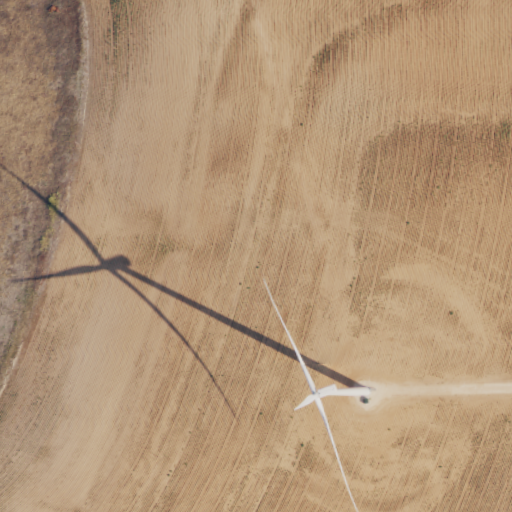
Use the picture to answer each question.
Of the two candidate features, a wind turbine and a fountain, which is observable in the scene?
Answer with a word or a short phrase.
wind turbine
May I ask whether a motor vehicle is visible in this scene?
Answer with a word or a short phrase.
No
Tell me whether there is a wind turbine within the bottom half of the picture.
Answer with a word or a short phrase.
Yes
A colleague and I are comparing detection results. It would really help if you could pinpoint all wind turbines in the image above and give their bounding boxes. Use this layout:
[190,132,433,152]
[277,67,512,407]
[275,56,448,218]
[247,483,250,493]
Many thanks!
[261,274,376,512]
